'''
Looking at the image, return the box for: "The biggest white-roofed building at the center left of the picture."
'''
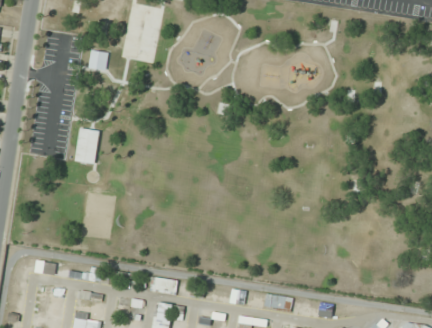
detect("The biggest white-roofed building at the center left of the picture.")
[75,128,100,164]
